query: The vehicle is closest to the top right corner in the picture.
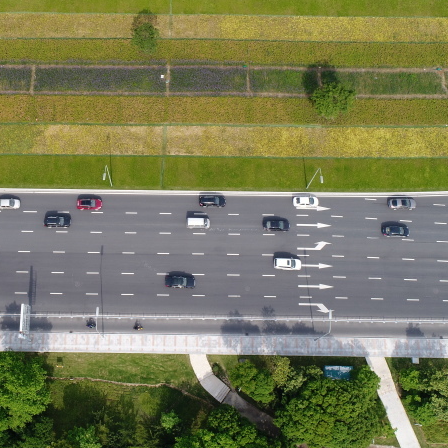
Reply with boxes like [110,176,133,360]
[389,197,416,210]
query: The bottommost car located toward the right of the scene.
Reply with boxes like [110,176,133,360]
[274,257,302,271]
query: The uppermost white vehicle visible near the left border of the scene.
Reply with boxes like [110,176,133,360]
[0,197,19,209]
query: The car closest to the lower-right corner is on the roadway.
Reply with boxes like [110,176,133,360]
[381,224,409,237]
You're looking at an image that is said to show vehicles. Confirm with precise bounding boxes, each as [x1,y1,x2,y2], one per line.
[263,218,290,231]
[293,196,320,209]
[77,197,101,210]
[185,217,211,229]
[43,214,70,227]
[166,275,194,288]
[274,257,302,271]
[0,197,19,209]
[381,224,409,237]
[198,195,225,207]
[389,197,416,210]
